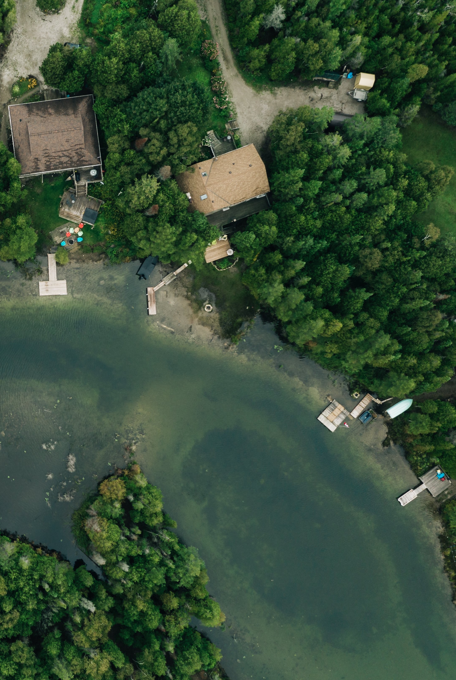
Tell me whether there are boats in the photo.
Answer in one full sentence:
Yes, the picture does show a boat.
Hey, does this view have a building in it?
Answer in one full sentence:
Yes, I can see a building in this picture.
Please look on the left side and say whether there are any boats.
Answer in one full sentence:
Yes, you'll find a boat on the left side.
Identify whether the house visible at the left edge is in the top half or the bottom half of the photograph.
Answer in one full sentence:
The house visible at the left edge is in the top half of the image.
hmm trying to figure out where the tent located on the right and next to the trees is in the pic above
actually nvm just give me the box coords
[354,73,375,91]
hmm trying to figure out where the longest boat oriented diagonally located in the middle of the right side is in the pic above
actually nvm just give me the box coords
[384,399,412,418]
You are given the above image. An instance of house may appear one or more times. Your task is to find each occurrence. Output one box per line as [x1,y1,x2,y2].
[8,90,104,226]
[174,130,273,234]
